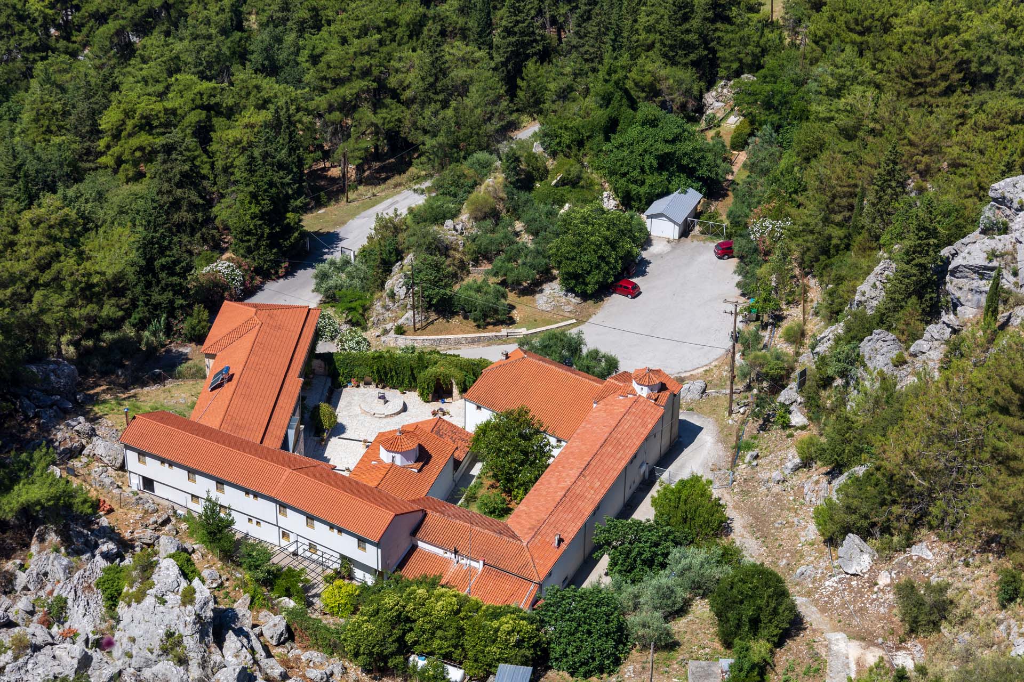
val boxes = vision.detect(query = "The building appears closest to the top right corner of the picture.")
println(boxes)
[645,185,703,239]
